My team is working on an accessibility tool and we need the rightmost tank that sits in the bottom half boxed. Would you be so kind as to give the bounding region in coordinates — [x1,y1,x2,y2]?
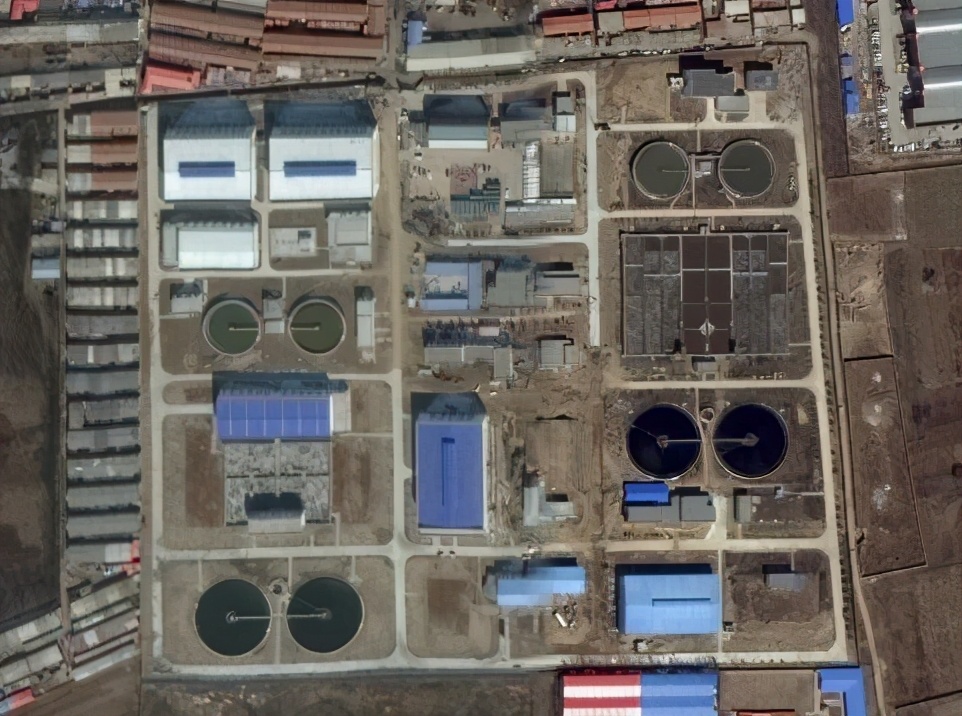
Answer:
[710,400,789,480]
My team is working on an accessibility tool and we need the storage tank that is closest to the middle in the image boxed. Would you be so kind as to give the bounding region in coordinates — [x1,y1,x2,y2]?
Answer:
[287,298,347,355]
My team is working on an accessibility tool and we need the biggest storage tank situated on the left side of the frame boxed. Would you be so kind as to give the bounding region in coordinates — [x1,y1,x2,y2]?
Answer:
[225,439,333,524]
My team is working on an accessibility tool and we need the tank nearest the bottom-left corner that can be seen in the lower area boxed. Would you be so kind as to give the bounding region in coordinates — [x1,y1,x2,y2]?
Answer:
[194,577,273,658]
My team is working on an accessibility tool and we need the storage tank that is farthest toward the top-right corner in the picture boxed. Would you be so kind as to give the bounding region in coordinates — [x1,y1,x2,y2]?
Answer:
[719,141,775,196]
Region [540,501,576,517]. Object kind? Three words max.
shed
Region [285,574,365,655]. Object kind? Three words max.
storage tank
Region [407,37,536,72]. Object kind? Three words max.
building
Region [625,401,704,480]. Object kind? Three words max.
storage tank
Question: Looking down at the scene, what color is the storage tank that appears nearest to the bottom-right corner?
black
